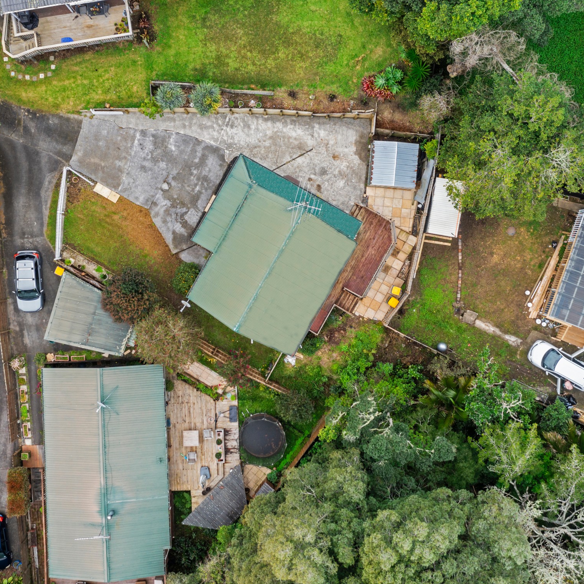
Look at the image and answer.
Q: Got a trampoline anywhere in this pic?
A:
Yes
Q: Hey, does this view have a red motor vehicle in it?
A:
No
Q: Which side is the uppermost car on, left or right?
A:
left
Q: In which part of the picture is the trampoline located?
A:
bottom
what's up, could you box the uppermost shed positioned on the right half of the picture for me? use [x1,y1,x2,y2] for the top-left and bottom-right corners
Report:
[369,140,419,190]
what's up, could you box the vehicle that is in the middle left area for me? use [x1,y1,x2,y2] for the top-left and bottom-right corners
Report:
[11,250,43,312]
